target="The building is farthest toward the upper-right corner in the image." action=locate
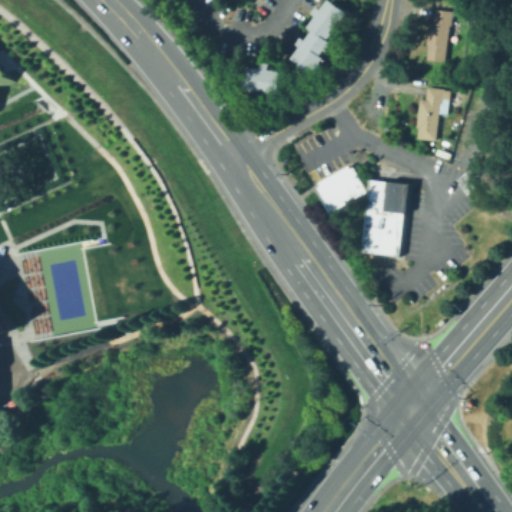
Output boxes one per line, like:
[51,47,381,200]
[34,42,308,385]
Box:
[424,8,455,63]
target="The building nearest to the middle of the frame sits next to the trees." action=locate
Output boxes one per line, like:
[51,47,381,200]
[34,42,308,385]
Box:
[317,166,367,212]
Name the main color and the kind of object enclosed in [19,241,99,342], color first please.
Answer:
green sports court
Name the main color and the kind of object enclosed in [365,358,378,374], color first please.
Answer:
white vehicle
